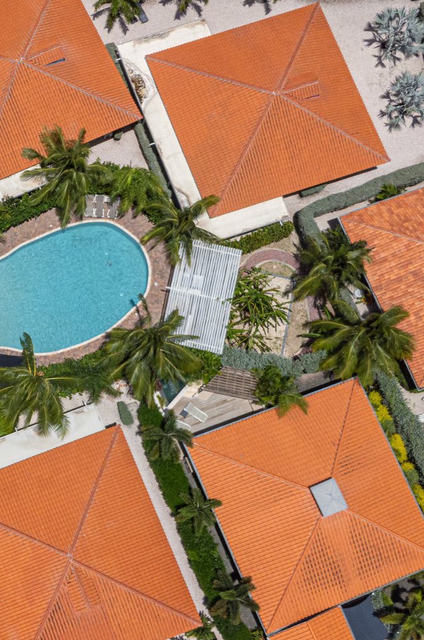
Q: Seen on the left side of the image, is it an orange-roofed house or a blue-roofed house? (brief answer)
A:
orange-roofed house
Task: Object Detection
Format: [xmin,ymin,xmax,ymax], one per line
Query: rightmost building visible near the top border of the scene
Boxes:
[117,0,392,247]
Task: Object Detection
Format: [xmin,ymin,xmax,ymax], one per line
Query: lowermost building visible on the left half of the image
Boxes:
[0,403,204,640]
